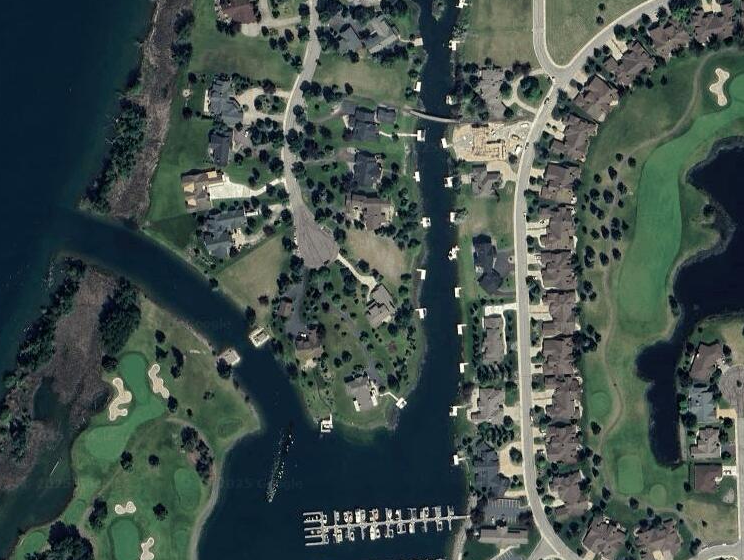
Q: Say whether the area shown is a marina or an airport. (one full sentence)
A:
This looks like a marina.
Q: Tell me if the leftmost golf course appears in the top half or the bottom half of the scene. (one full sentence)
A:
You can find the leftmost golf course in the bottom half.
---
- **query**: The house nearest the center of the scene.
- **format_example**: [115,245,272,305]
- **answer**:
[364,282,399,325]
